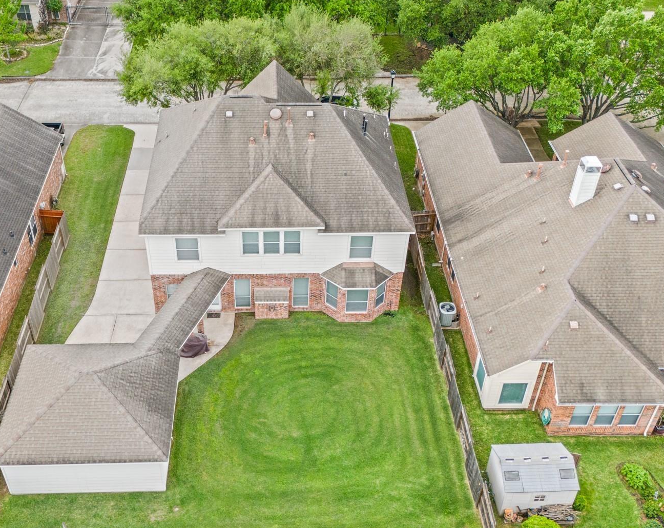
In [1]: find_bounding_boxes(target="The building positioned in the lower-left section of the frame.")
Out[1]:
[0,343,180,495]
